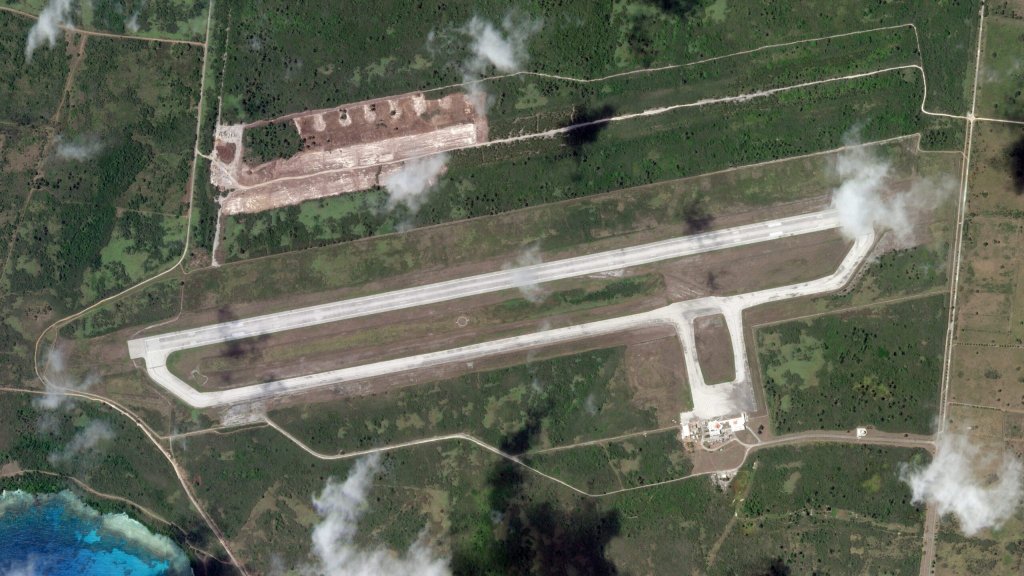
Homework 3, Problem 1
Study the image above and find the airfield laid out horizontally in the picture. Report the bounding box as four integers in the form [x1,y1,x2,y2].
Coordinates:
[128,203,874,425]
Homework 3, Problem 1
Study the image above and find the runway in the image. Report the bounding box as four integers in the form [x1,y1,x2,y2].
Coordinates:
[145,203,872,356]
